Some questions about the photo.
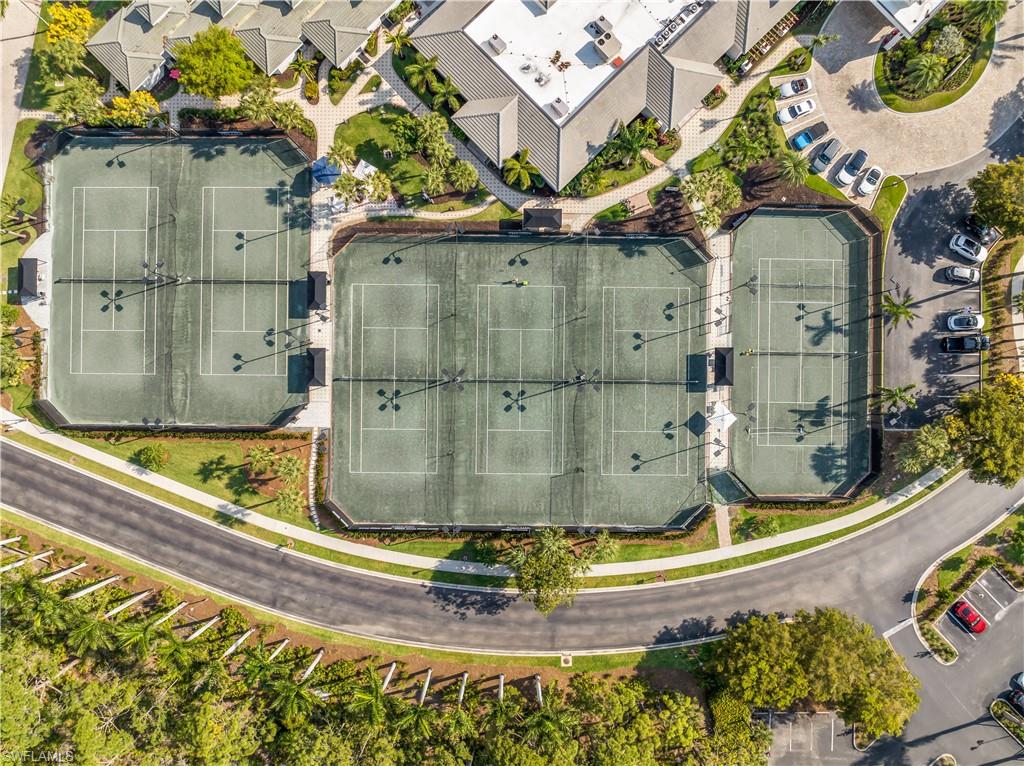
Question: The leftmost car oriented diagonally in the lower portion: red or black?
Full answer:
From above, the leftmost car oriented diagonally in the lower portion appears red.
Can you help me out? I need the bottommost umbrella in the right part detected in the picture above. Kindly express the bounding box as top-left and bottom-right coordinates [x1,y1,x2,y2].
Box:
[705,402,737,433]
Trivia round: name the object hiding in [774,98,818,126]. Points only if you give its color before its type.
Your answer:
white car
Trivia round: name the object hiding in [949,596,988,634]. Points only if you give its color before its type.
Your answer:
red car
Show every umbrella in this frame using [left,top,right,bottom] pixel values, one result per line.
[354,161,375,183]
[312,156,341,186]
[705,402,737,433]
